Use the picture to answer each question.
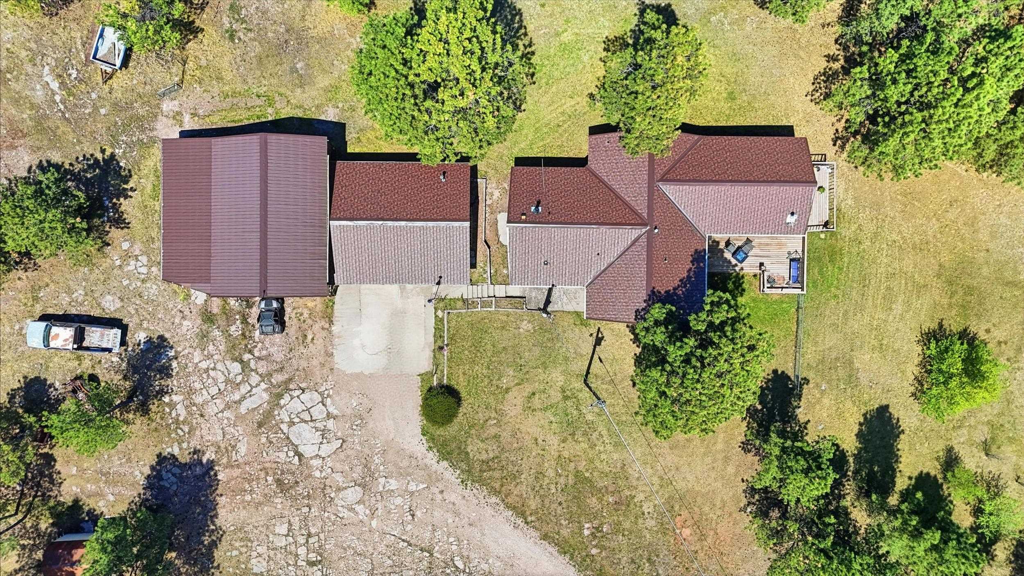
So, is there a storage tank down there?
No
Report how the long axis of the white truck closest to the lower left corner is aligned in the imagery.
from side to side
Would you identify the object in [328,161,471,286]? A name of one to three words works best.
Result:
building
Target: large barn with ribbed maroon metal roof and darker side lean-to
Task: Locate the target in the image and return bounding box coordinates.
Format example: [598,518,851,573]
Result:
[160,131,339,298]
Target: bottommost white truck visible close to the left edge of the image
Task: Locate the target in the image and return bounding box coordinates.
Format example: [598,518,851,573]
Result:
[24,317,127,355]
